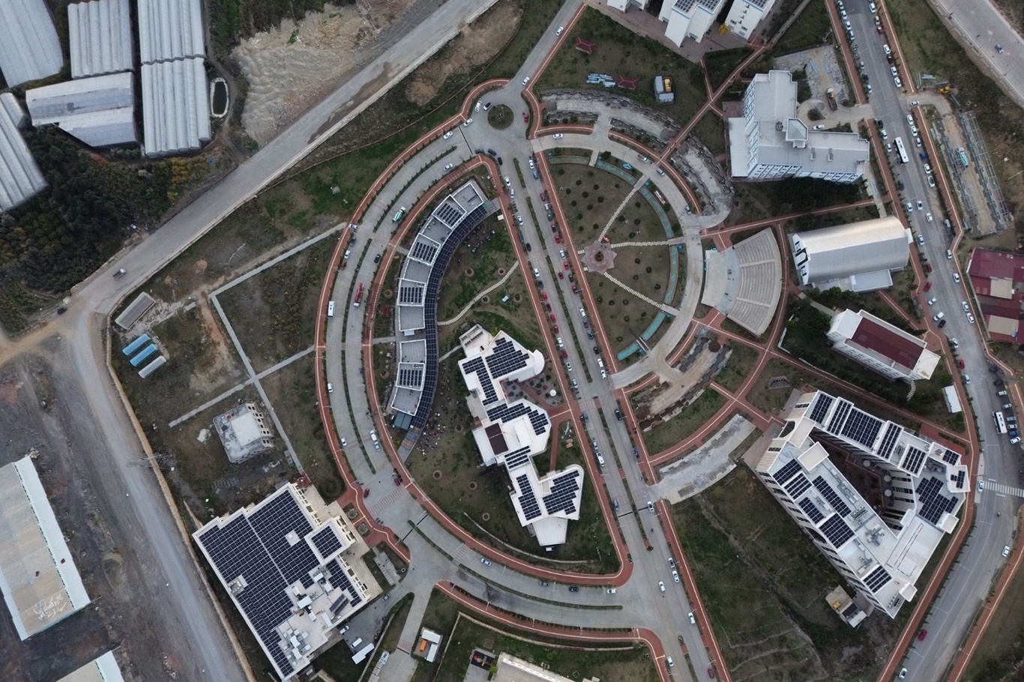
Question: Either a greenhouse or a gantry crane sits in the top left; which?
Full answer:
The feature located in the top left is a greenhouse.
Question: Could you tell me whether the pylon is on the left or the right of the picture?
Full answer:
It is on the left.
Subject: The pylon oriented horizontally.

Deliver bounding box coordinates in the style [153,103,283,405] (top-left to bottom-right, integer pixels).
[129,450,173,472]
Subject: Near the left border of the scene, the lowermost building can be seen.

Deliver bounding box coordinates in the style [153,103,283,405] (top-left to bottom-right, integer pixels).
[51,649,133,682]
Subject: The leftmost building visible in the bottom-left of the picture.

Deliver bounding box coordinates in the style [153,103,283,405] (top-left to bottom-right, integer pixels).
[0,457,91,638]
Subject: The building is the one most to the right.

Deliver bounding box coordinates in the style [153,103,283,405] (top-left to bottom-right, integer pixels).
[962,247,1024,352]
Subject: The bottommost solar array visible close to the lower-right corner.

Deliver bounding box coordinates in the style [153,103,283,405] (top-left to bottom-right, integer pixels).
[864,567,892,592]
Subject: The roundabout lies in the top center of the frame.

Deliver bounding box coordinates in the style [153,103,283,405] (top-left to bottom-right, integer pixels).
[478,95,523,138]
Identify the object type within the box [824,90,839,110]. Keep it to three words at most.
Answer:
vehicle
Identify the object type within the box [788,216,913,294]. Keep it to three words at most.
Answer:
building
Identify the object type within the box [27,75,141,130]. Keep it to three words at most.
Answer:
greenhouse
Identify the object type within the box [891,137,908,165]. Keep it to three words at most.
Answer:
vehicle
